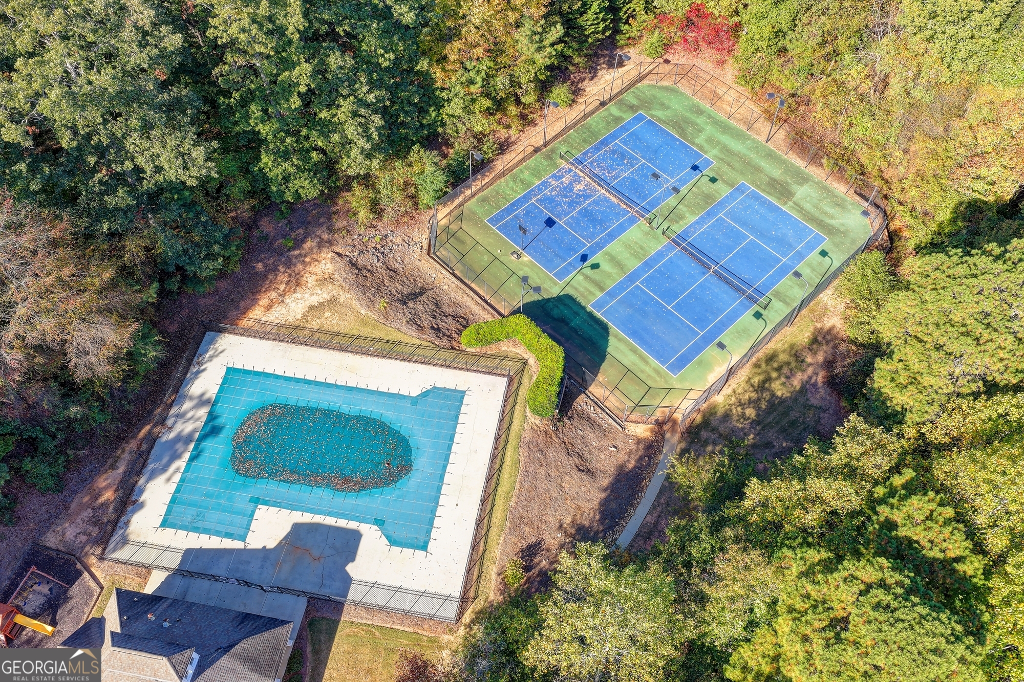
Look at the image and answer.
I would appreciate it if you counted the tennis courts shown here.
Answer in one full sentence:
The number of tennis courts here is 2.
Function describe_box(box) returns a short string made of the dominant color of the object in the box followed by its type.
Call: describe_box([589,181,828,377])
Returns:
blue tennis court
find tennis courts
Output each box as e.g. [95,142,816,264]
[589,181,828,377]
[486,112,715,282]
